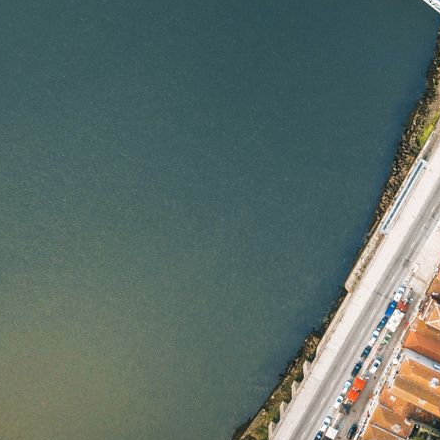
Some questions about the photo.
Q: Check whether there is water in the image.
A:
Yes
